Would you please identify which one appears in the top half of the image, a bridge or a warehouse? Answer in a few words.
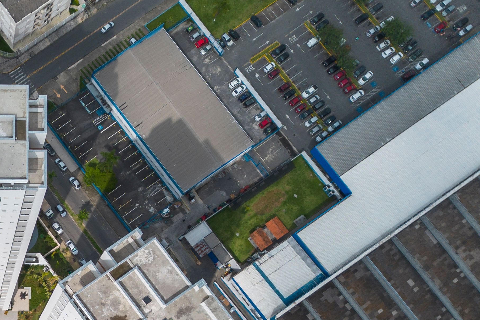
warehouse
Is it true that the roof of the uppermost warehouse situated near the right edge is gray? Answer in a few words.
Yes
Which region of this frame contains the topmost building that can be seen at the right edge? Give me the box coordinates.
[314,33,480,179]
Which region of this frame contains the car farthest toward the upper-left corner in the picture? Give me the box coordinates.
[100,22,114,34]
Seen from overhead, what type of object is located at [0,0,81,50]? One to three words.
building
